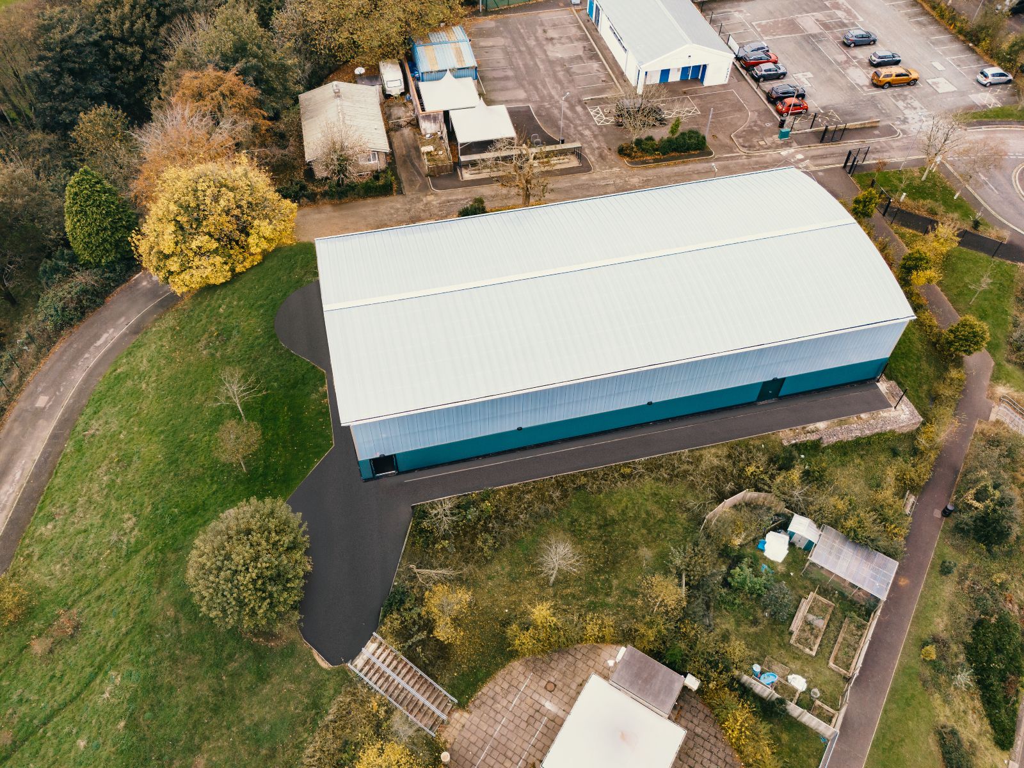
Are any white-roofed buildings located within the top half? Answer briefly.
Yes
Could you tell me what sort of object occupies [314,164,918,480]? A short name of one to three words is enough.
building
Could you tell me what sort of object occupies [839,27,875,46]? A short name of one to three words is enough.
car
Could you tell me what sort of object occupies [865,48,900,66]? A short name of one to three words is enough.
car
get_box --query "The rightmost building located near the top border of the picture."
[585,0,735,94]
